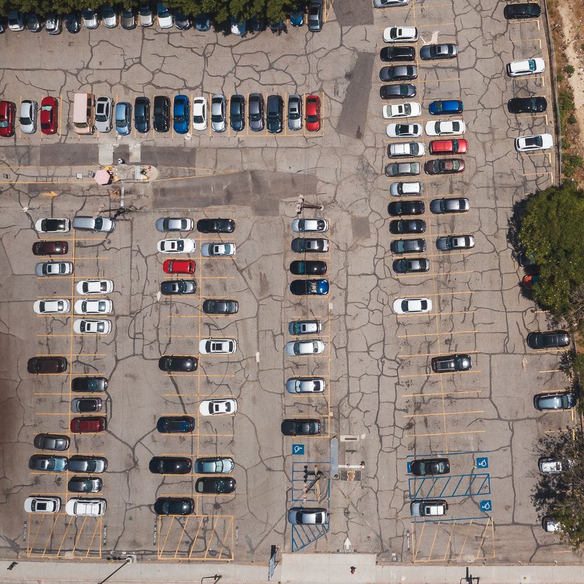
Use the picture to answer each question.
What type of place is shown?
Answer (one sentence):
The area seen from above is a parking lot.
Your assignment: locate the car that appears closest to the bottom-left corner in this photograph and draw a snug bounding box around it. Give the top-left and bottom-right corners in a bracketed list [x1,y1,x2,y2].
[24,496,60,515]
